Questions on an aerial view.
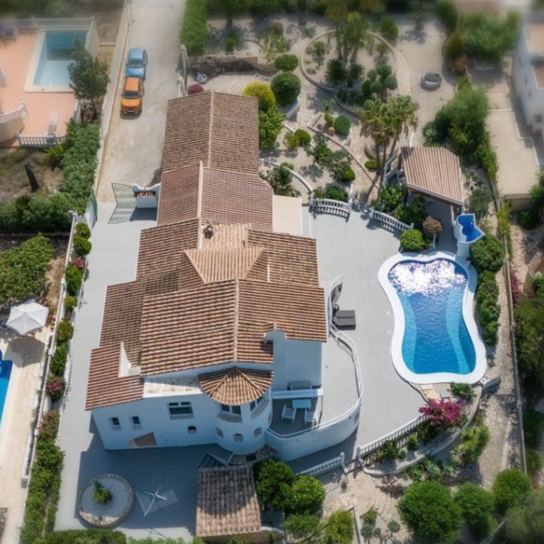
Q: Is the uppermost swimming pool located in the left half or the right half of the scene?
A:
left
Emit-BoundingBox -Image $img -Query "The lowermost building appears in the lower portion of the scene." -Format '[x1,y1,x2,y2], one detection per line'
[197,465,269,544]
